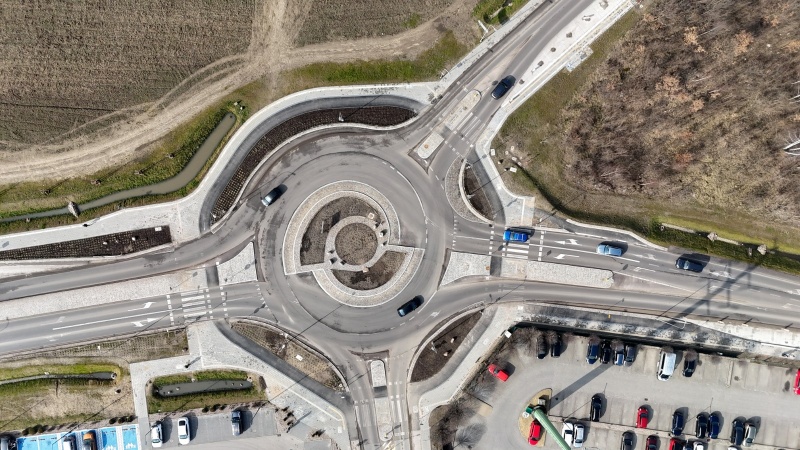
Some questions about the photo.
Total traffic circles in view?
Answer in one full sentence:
The photo contains exactly 1 traffic circle.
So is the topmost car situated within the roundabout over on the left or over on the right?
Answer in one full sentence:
It is on the left.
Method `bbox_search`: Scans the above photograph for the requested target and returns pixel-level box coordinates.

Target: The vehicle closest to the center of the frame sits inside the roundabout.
[398,295,423,316]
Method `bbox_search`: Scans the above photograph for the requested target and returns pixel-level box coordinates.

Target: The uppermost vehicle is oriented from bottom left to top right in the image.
[490,75,515,100]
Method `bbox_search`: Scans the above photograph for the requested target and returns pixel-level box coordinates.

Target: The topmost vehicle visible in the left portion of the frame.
[260,184,284,208]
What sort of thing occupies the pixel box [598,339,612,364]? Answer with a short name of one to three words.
vehicle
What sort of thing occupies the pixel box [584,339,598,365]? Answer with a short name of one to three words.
car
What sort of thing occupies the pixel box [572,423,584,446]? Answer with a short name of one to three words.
vehicle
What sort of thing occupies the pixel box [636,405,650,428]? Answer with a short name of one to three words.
car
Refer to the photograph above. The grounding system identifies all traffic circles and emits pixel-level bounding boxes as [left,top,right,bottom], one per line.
[233,126,449,352]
